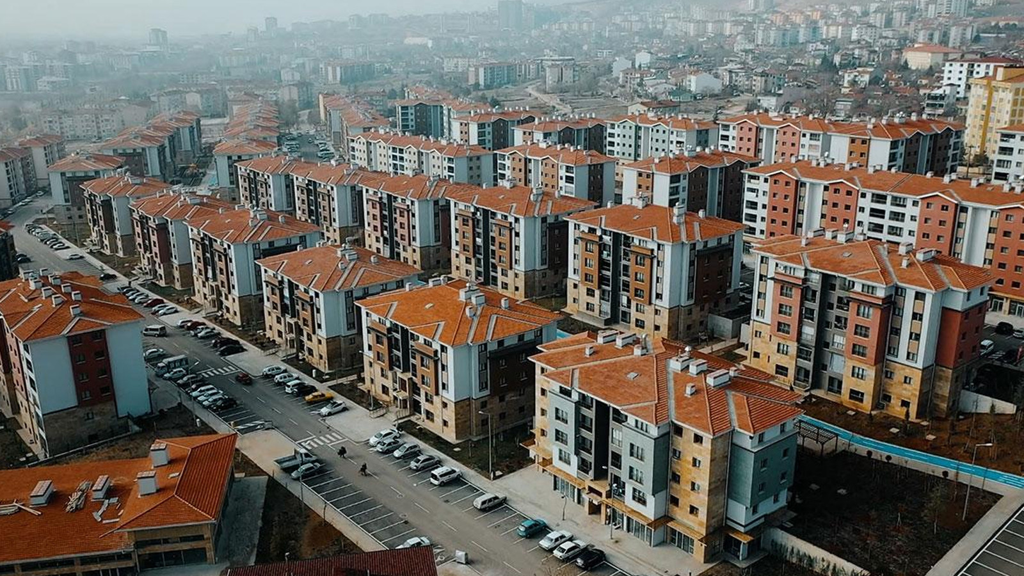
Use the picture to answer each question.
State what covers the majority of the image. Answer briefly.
buildings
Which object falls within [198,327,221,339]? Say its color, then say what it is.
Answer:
gray vehicle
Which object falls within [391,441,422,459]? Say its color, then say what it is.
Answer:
gray car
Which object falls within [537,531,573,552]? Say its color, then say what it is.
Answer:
white car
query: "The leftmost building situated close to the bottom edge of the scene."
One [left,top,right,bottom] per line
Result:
[0,433,232,576]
